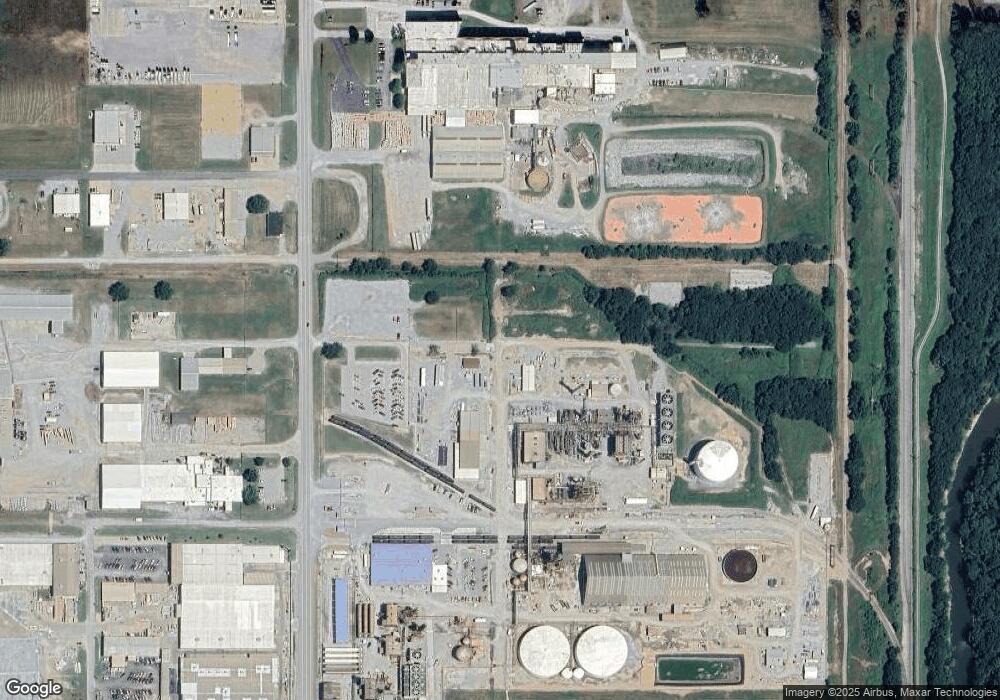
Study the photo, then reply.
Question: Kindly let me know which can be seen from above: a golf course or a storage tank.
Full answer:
I can see a storage tank in this picture.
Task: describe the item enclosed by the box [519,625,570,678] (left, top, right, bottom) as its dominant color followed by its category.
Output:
white storage tank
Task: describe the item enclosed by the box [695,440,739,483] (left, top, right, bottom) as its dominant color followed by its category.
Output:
white storage tank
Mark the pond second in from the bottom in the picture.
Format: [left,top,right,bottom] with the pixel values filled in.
[603,193,765,245]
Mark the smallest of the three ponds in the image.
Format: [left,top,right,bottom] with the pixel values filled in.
[654,655,745,686]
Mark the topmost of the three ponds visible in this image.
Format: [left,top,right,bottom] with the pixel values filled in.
[604,136,766,189]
